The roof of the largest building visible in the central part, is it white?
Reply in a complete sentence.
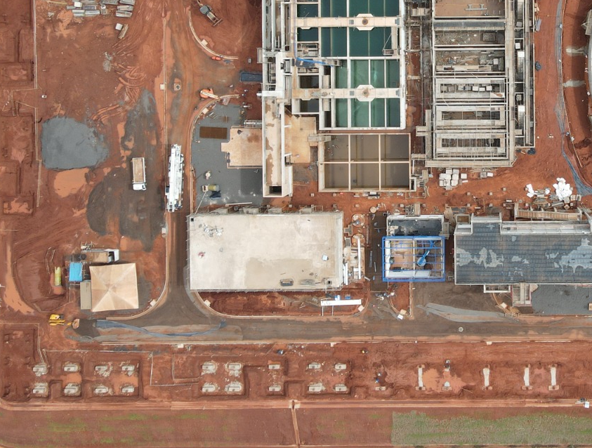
Yes, the roof of the largest building visible in the central part is indeed white.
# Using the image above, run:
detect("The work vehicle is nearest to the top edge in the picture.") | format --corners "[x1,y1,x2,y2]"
[194,0,220,26]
